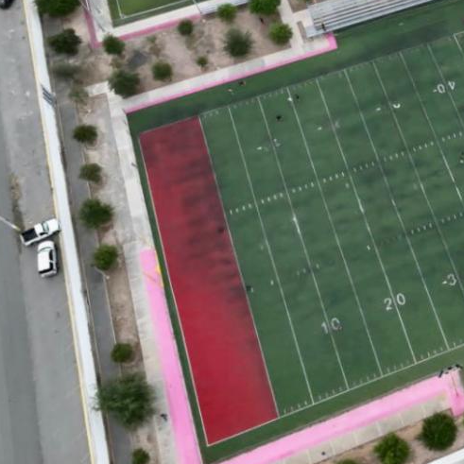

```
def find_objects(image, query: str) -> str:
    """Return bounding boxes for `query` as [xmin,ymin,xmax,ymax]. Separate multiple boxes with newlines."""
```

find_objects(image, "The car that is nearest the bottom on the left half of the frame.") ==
[34,240,55,275]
